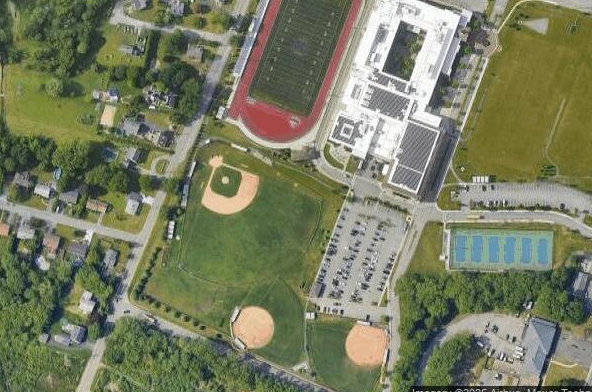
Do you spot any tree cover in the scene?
Yes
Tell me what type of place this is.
sports ground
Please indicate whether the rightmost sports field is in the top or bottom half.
top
